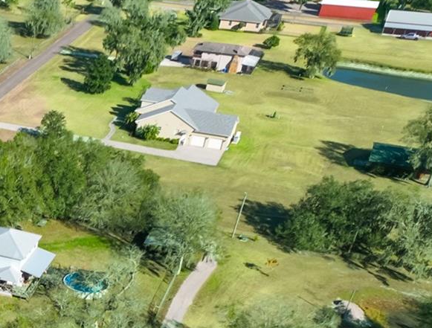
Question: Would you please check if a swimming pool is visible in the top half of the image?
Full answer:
No, the scene shows no swimming pool in the top half of the image.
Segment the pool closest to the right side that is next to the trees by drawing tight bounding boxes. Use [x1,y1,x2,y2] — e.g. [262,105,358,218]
[60,269,114,299]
